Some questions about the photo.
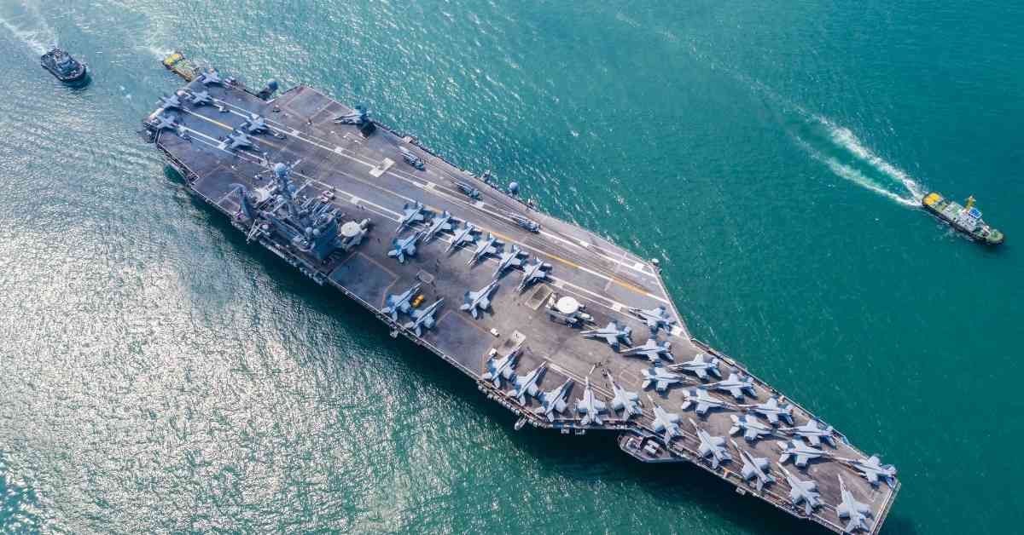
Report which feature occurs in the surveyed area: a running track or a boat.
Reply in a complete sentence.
Of the two, only a boat appears.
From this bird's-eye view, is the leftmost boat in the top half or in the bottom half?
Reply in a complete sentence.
Seen from above, the leftmost boat lies in the top half of the view.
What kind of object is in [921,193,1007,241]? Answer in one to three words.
boat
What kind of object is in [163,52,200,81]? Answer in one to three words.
boat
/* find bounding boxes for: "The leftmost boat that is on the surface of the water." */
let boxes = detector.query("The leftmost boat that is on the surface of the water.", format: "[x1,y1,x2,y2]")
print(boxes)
[38,46,91,86]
